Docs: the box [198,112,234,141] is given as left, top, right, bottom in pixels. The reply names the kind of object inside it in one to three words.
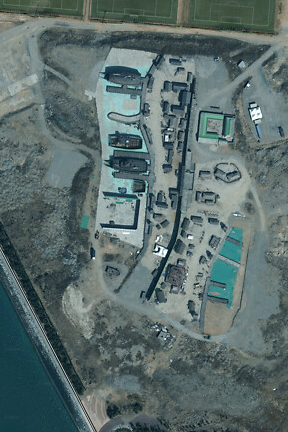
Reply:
building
